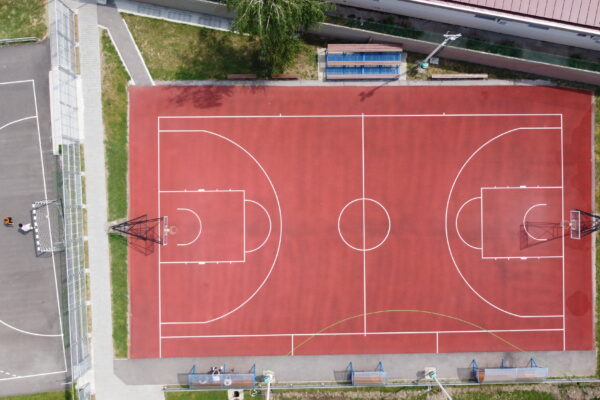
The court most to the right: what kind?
basketball court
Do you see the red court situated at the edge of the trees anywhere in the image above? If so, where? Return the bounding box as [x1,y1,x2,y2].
[128,86,594,365]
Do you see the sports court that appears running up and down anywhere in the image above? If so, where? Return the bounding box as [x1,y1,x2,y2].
[0,37,90,396]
